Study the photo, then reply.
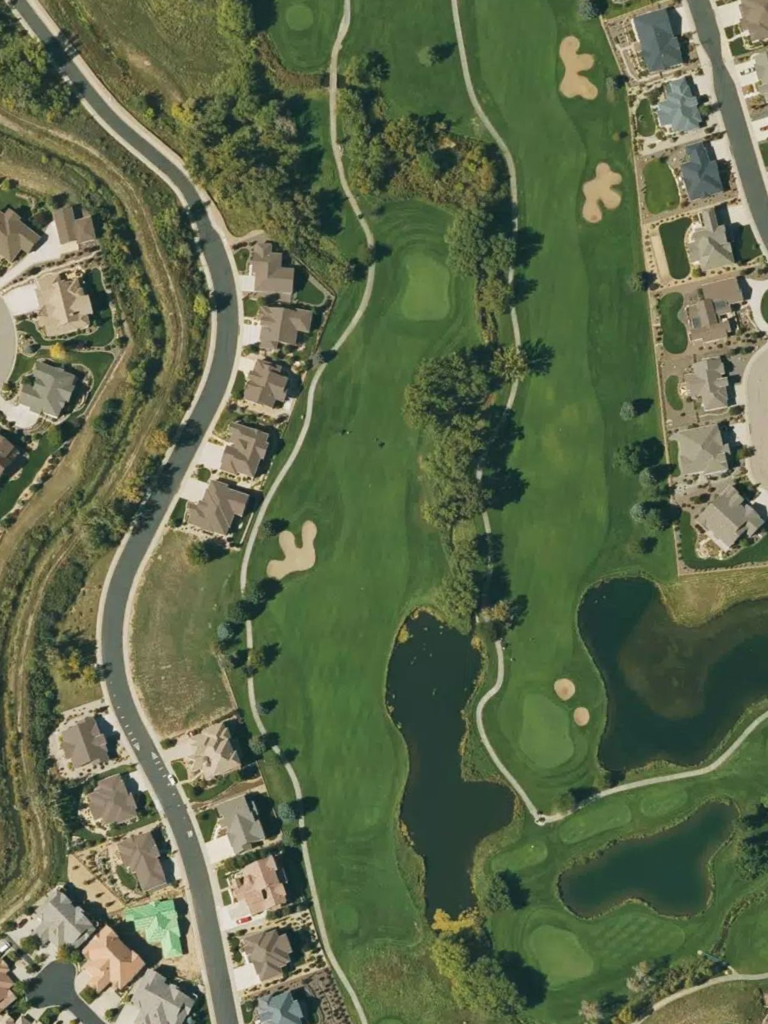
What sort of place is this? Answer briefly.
golf course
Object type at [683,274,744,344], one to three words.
house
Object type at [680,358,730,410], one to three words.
house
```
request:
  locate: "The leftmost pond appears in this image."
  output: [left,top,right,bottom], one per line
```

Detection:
[385,611,514,921]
